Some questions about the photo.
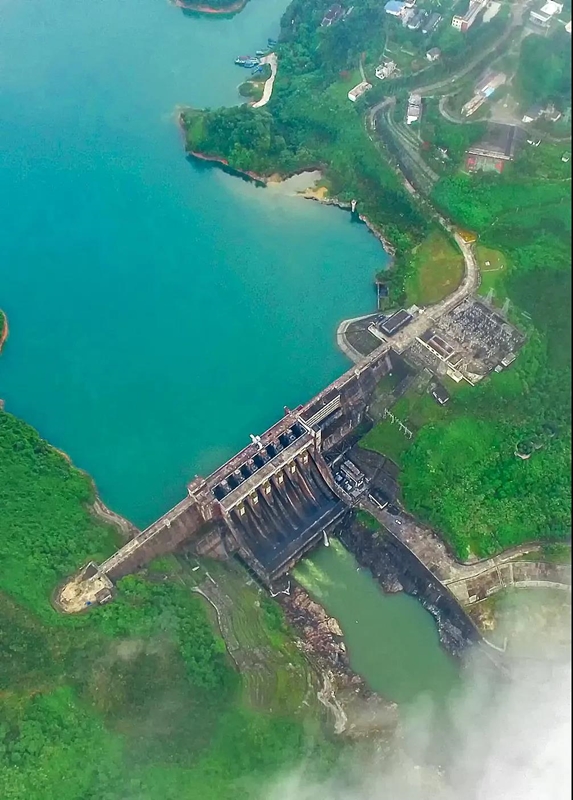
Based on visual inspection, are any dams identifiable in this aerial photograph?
Yes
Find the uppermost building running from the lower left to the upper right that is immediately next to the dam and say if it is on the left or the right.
right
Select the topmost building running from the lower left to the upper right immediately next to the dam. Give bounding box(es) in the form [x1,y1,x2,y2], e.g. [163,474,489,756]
[379,309,412,339]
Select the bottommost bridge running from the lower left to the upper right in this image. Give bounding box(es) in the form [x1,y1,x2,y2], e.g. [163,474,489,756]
[213,423,315,508]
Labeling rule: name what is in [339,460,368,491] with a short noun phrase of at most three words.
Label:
building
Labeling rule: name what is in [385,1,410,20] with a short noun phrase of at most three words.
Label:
house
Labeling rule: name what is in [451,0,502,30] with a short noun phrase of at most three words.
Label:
building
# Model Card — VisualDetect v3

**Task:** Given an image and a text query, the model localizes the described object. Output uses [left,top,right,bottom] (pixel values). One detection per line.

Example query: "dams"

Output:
[96,342,395,601]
